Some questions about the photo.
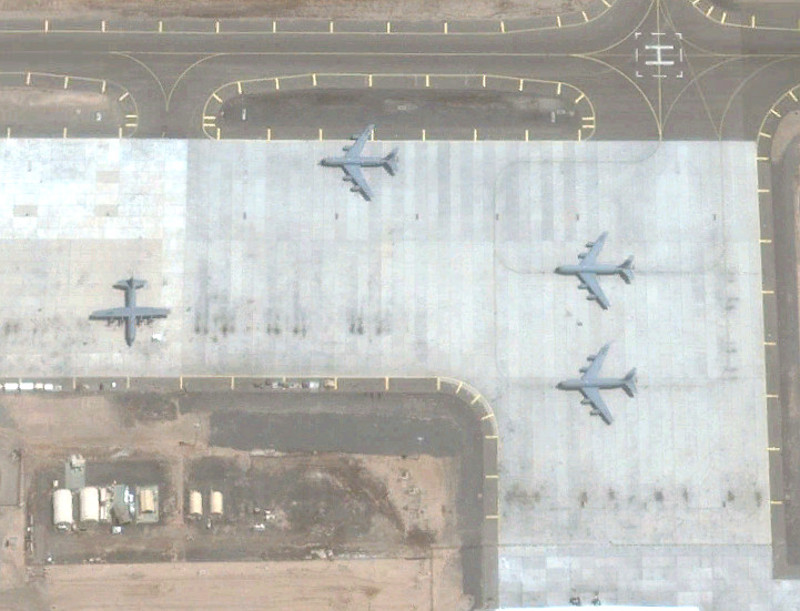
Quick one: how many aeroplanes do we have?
4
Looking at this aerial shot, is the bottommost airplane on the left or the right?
right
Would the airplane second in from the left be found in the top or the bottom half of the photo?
top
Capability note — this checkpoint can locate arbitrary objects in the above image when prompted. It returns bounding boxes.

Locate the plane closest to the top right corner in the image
[553,232,634,308]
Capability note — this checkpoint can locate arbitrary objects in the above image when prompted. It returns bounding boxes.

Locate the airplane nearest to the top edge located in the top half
[317,123,398,198]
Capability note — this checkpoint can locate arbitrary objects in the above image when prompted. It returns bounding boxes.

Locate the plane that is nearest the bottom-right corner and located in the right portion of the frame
[555,345,636,421]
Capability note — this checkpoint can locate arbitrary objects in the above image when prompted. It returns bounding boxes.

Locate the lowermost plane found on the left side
[93,280,170,346]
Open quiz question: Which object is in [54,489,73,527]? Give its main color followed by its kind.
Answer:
white tent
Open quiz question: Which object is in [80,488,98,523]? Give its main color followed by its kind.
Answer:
white tent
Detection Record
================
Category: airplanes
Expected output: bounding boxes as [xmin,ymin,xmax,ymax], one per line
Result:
[317,123,398,198]
[93,280,170,346]
[553,232,634,308]
[555,345,636,421]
